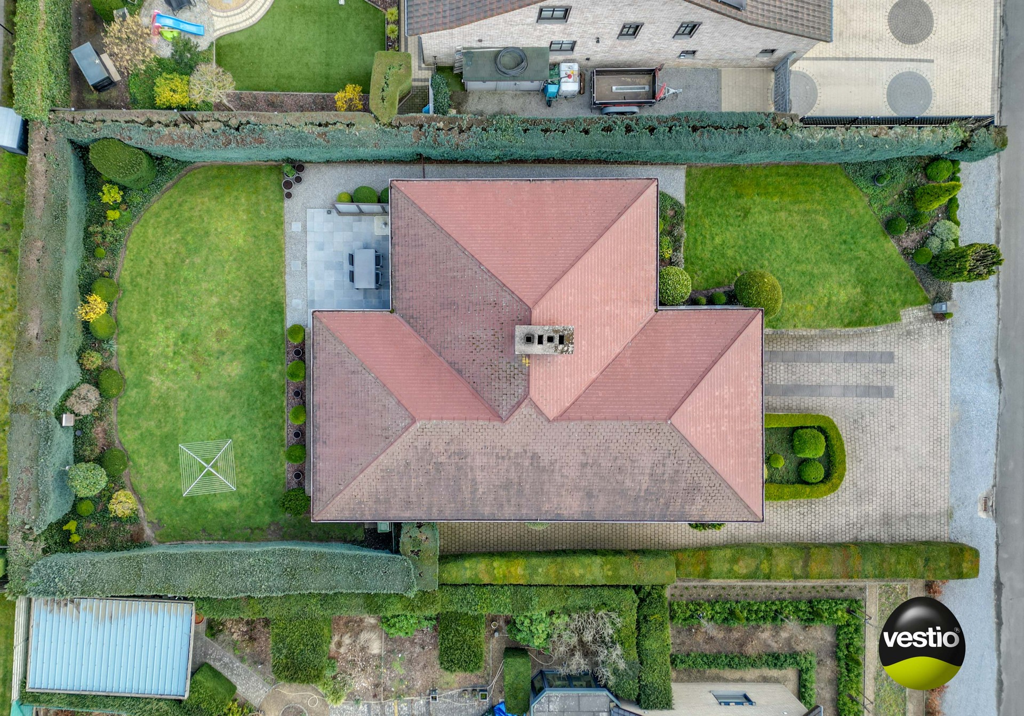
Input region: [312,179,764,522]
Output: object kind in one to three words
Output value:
house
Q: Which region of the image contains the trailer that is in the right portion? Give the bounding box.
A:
[590,65,686,115]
